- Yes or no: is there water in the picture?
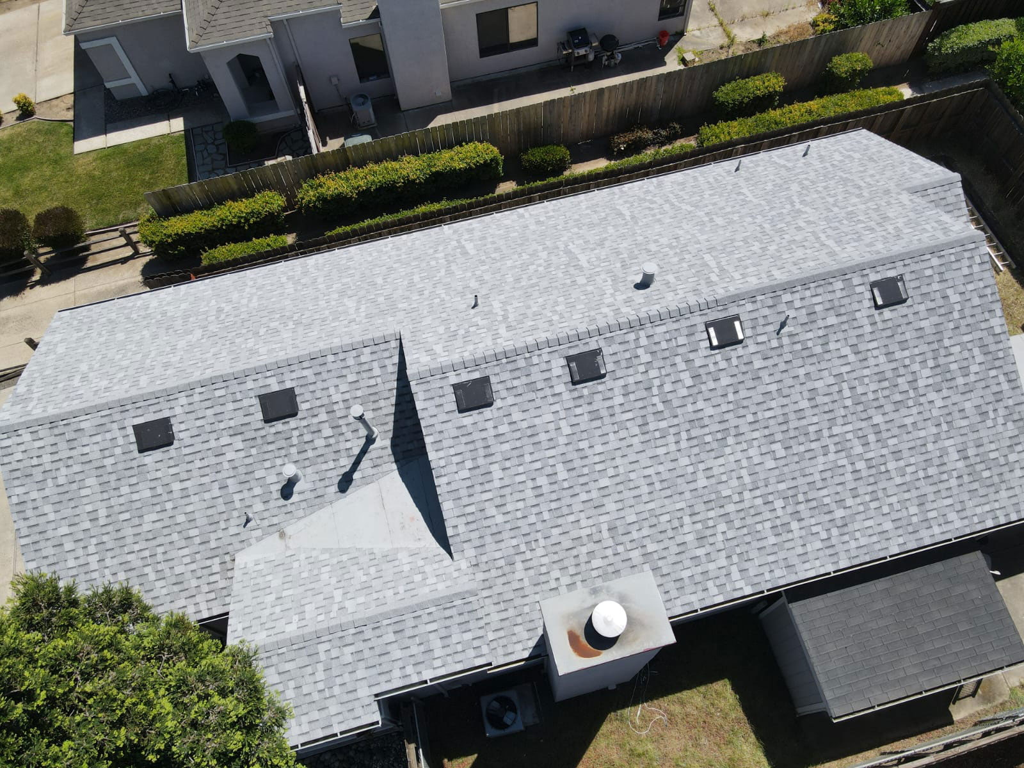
No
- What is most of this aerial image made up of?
buildings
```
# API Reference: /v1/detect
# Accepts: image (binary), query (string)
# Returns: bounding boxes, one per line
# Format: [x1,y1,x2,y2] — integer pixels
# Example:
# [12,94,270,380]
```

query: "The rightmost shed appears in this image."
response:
[766,550,1024,730]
